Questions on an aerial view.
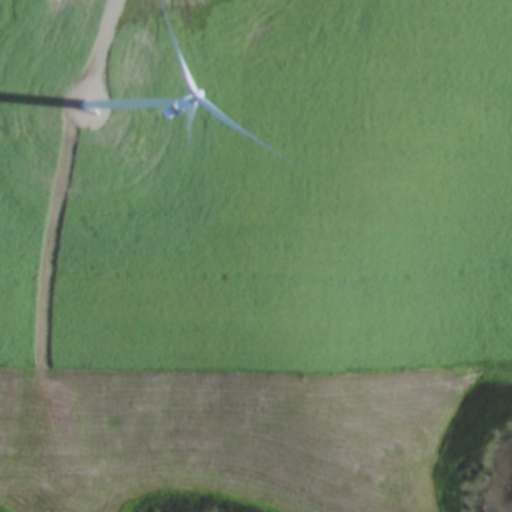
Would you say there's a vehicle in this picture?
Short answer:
No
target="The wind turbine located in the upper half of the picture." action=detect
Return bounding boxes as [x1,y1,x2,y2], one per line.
[80,0,290,159]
